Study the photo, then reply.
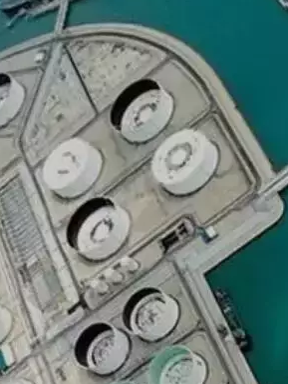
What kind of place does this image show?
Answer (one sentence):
This image shows an industrial area.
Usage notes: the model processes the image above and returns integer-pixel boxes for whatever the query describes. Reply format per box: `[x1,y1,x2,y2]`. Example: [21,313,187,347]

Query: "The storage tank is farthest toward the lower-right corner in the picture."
[149,343,210,384]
